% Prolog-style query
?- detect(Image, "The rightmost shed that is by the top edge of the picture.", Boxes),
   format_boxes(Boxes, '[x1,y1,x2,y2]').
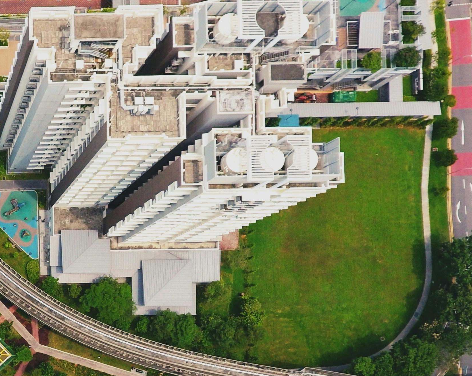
[352,12,385,52]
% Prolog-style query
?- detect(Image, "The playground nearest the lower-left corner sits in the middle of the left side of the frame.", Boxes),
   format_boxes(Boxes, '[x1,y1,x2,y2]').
[0,189,39,258]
